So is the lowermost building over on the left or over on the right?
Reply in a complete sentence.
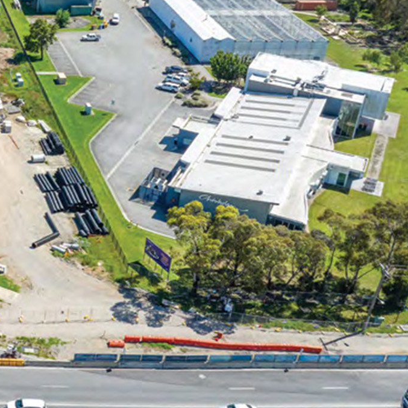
The lowermost building sits on the right side.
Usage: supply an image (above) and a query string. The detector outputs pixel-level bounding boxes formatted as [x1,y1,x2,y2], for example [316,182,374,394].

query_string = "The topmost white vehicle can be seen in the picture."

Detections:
[108,12,123,26]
